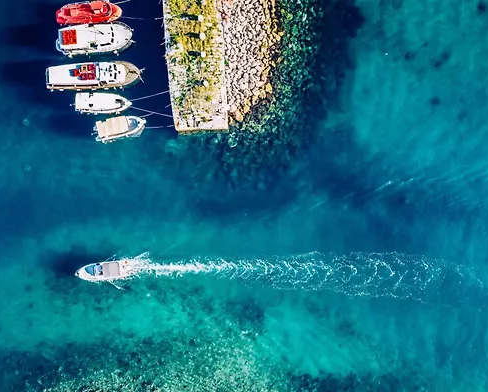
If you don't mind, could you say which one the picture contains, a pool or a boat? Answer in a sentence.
Looking from above, you can make out a boat.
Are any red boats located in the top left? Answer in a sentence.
Yes, you'll find a red boat in the top left.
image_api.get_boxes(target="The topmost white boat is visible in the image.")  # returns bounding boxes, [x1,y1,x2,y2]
[55,19,137,58]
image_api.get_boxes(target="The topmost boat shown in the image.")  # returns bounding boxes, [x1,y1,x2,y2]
[56,0,124,26]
